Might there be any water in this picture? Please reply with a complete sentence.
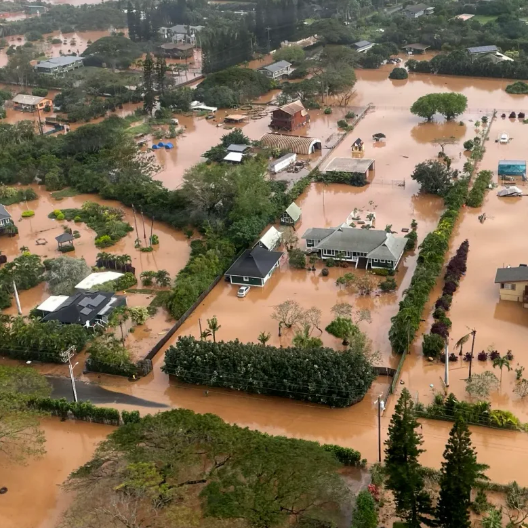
Yes, the picture does contain water.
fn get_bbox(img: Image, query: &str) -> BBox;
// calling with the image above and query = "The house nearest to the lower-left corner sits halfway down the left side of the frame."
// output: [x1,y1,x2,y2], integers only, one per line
[37,268,130,336]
